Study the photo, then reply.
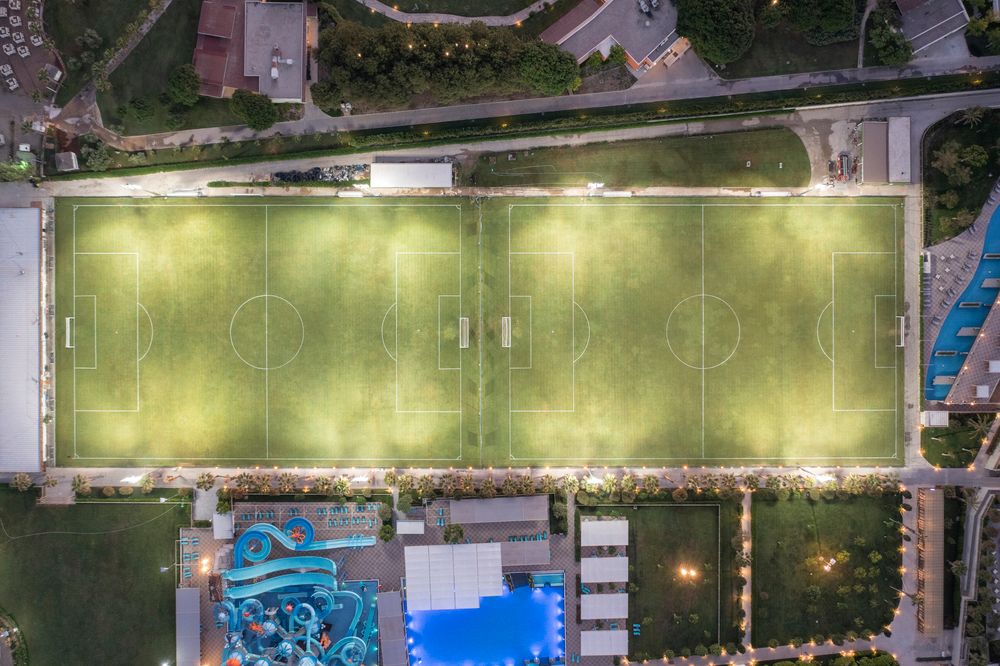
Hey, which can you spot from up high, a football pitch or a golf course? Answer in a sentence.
The image shows a football pitch.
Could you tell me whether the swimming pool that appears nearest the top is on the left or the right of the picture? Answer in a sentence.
You can find the swimming pool that appears nearest the top on the right side of the picture.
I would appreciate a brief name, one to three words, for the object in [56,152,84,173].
shed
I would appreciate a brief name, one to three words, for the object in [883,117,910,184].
building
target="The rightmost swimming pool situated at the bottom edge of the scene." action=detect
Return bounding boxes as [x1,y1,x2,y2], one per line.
[401,568,566,666]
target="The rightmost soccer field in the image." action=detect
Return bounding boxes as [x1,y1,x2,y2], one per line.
[510,204,899,460]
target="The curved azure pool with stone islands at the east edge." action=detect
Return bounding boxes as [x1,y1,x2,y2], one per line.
[926,203,1000,403]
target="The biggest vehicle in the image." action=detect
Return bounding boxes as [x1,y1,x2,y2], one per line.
[838,156,852,182]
